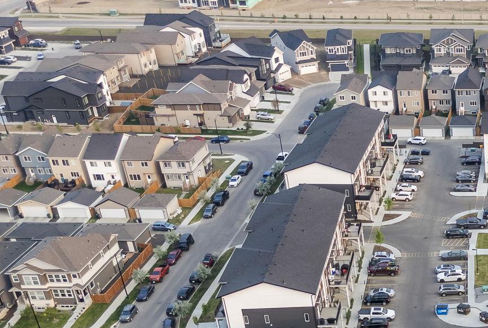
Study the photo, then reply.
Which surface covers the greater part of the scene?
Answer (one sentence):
The bulk of the photo consists of buildings.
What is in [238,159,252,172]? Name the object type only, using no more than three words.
vehicle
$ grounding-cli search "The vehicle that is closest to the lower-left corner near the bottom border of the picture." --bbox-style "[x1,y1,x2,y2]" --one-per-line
[117,301,138,320]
